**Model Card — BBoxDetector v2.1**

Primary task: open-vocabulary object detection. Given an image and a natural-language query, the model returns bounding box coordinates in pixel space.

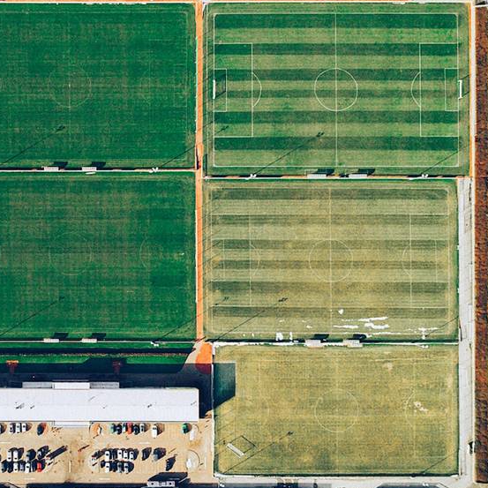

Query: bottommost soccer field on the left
[0,171,197,340]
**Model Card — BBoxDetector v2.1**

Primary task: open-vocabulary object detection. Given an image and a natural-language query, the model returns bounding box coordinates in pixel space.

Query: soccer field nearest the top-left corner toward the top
[0,3,197,169]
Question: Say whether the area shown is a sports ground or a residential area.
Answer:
sports ground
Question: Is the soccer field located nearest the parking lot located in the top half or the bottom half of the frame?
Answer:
bottom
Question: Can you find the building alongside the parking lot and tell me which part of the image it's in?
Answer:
bottom left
